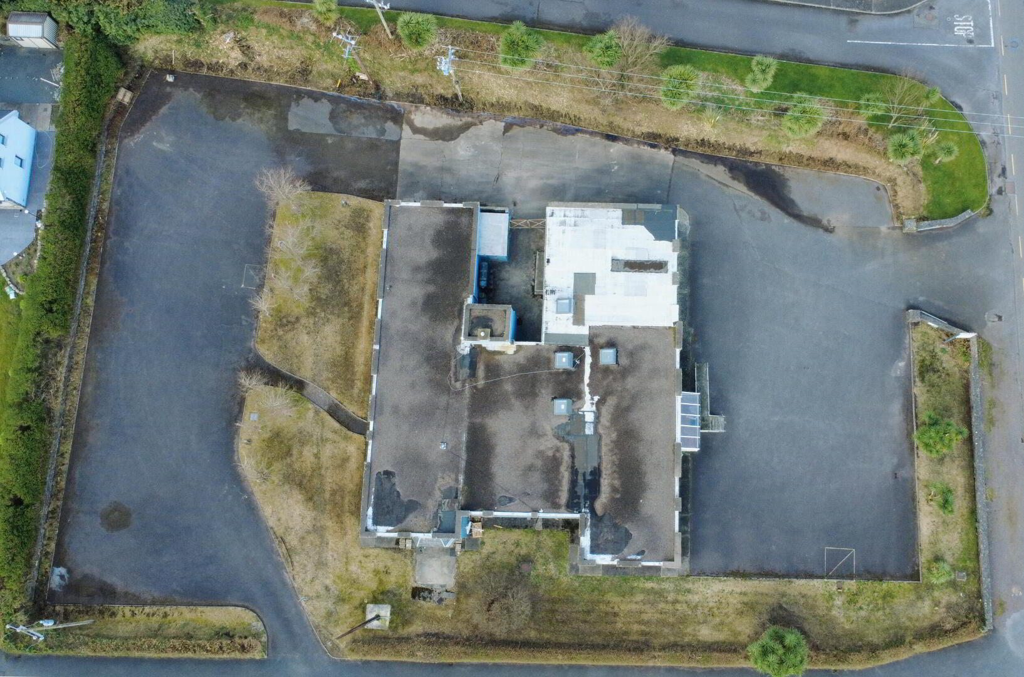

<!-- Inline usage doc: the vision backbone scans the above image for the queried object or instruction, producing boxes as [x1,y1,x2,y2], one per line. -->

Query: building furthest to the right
[360,201,701,567]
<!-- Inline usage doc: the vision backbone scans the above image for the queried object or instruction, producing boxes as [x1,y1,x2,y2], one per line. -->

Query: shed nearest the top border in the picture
[1,12,62,49]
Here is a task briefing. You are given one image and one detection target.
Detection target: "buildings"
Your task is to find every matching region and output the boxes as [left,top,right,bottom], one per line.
[0,113,36,211]
[360,201,701,567]
[1,12,62,49]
